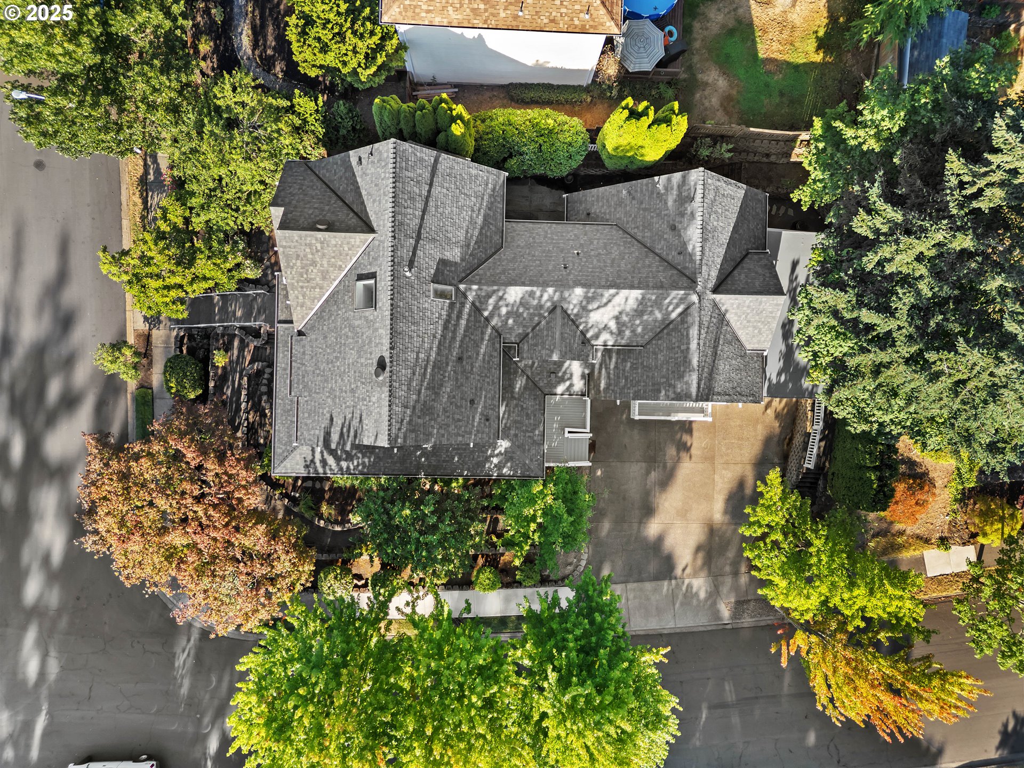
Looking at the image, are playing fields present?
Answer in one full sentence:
No, no playing field can be seen from above.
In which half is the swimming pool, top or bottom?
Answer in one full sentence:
The swimming pool is in the top half of the image.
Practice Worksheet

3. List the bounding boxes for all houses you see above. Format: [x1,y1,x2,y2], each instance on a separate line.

[376,0,627,87]
[268,138,830,483]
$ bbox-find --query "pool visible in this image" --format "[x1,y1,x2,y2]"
[626,0,685,34]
